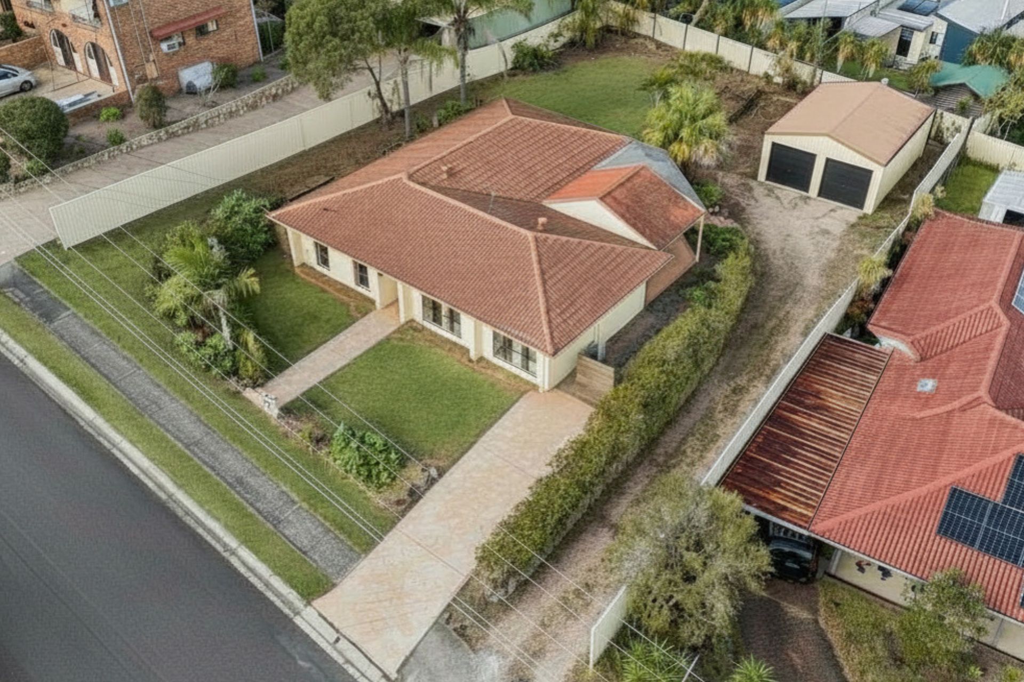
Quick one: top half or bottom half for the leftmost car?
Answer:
top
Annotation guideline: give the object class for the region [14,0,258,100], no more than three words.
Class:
building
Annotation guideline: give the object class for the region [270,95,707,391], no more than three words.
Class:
house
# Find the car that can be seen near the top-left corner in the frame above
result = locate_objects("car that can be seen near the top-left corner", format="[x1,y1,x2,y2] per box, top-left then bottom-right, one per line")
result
[0,68,45,94]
